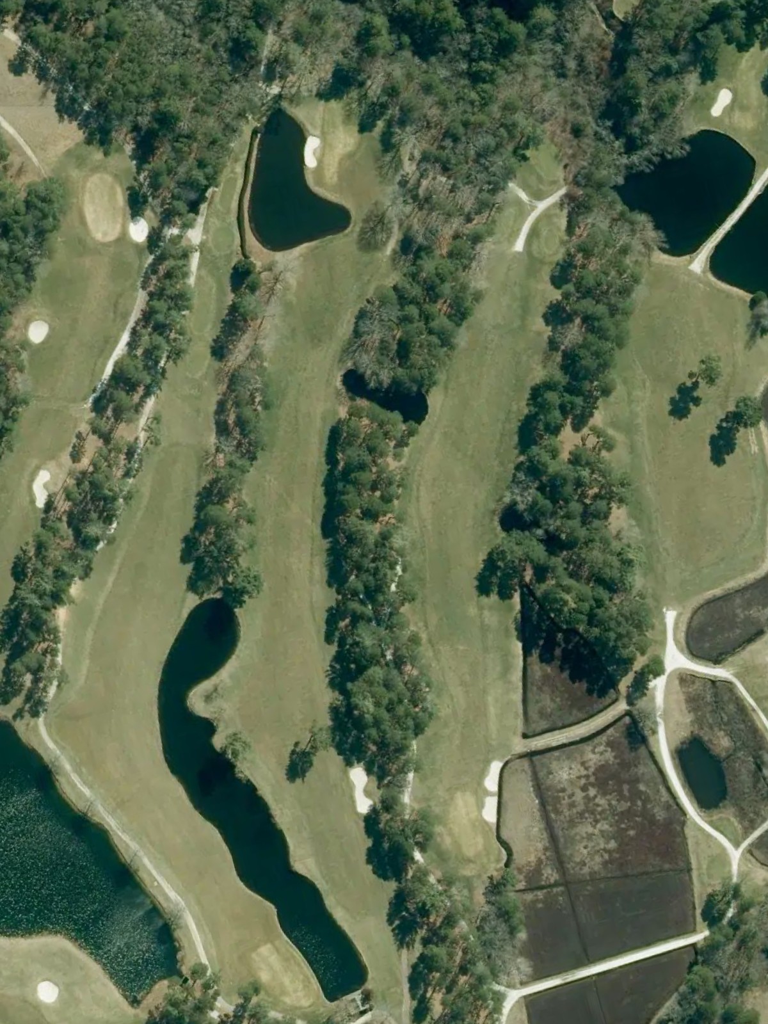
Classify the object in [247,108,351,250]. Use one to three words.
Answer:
pond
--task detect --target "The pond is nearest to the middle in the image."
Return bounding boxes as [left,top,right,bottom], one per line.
[343,364,429,424]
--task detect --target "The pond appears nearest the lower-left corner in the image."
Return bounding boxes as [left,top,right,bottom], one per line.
[158,598,369,1002]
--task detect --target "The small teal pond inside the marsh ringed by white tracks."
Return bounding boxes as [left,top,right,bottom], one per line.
[679,736,726,809]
